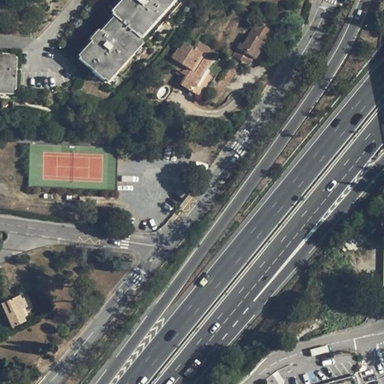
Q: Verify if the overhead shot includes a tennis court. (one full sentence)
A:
Yes, there's a tennis court down there.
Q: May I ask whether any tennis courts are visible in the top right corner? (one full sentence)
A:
No, there's no tennis court to be seen in the top right corner.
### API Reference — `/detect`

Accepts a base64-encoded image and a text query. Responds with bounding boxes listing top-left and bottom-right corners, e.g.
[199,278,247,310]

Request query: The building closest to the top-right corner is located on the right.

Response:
[236,20,272,60]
